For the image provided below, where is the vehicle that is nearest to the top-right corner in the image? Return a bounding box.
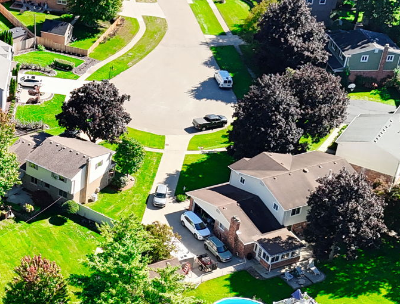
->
[214,66,234,86]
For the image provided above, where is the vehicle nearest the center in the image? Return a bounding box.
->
[192,114,232,132]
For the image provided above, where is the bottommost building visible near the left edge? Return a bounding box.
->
[11,131,109,204]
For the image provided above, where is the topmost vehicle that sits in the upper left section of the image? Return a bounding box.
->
[17,75,45,89]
